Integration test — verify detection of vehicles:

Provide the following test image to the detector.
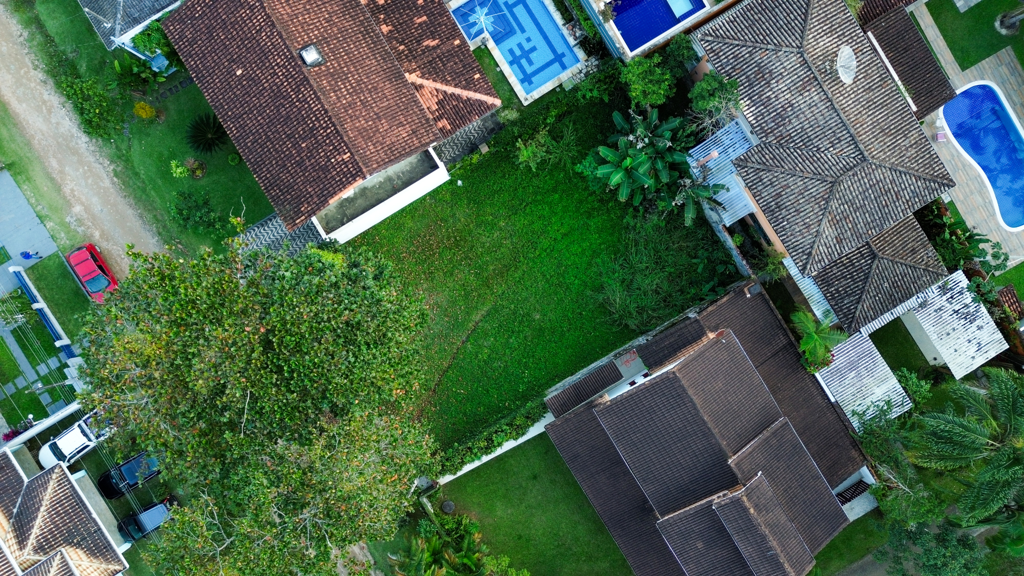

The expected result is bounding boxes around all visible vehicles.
[35,400,127,468]
[103,444,178,498]
[68,235,126,302]
[122,490,176,542]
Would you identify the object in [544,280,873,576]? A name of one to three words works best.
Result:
house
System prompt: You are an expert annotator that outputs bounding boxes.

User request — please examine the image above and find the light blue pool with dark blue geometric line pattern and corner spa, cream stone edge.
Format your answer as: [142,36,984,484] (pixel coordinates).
[447,0,587,108]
